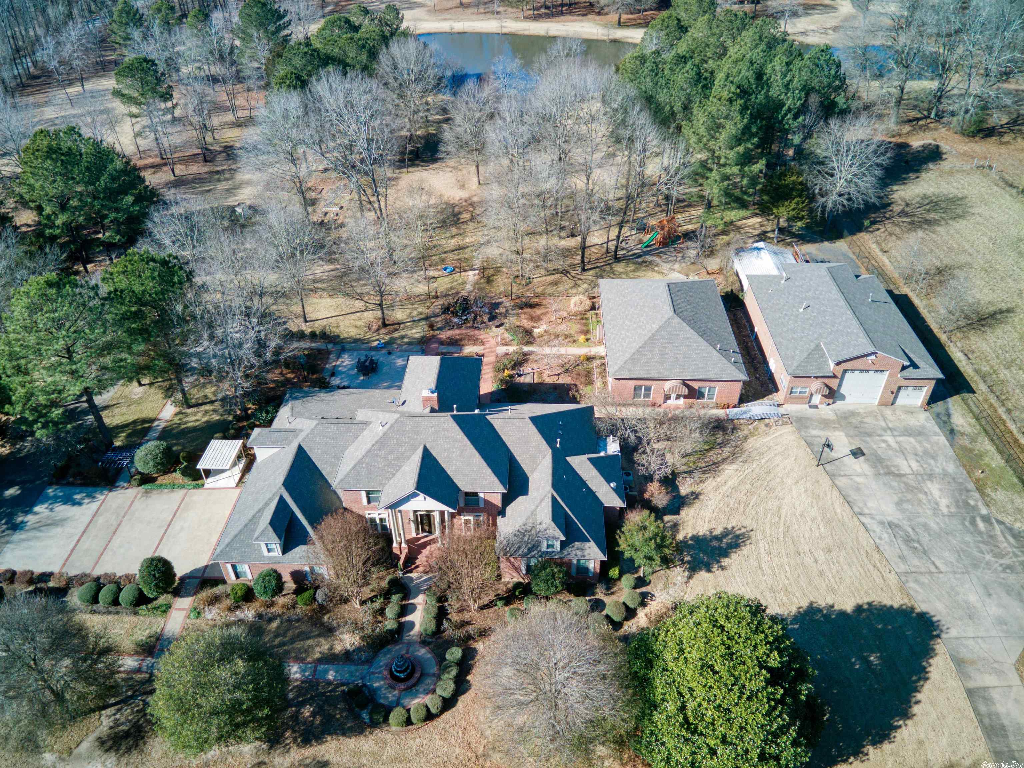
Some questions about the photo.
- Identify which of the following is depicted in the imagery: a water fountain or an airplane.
water fountain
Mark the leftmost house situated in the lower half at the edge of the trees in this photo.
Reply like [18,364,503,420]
[211,355,626,586]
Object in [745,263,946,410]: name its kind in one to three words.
building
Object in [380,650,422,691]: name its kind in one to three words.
fountain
